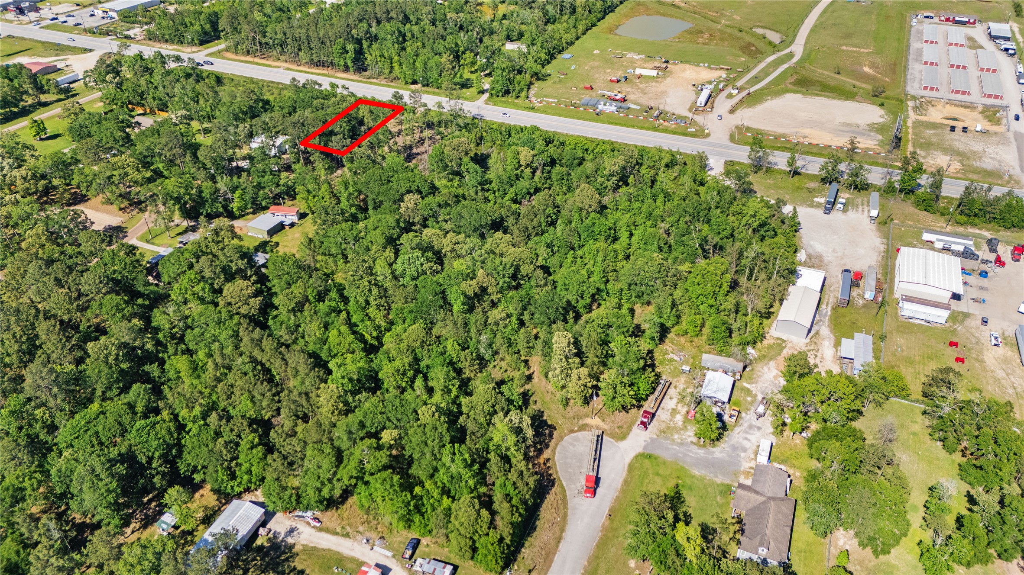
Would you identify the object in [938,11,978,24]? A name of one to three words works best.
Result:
house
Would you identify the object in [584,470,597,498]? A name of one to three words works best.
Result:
vehicle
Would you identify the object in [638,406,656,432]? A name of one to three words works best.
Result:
vehicle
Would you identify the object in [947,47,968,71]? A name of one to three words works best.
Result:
building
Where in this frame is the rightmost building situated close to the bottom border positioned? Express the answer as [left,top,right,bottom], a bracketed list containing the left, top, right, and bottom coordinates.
[731,461,795,574]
